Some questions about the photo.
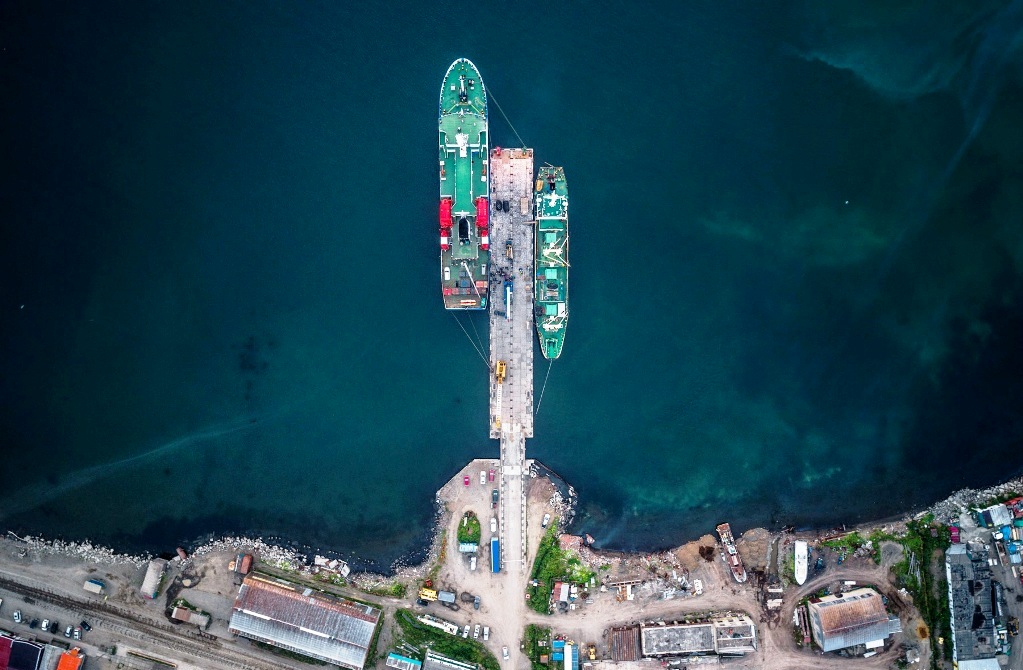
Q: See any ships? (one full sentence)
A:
Yes, the photo shows a ship.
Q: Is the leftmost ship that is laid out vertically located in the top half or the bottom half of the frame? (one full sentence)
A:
Seen from above, the leftmost ship that is laid out vertically lies in the top half of the view.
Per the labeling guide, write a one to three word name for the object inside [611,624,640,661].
shed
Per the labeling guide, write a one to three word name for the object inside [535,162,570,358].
ship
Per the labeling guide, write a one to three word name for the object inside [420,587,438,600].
vehicle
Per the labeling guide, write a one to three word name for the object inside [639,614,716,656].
building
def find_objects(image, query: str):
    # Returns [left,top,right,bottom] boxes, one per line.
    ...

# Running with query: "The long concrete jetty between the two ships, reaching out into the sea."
[489,149,533,438]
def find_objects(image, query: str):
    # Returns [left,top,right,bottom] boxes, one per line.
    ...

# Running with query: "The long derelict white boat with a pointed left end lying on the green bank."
[418,616,457,634]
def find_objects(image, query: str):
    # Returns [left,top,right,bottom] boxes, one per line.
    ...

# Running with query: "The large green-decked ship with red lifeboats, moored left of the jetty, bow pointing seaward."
[439,58,490,310]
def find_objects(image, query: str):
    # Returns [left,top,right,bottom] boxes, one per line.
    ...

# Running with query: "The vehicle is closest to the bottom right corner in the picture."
[1007,617,1020,638]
